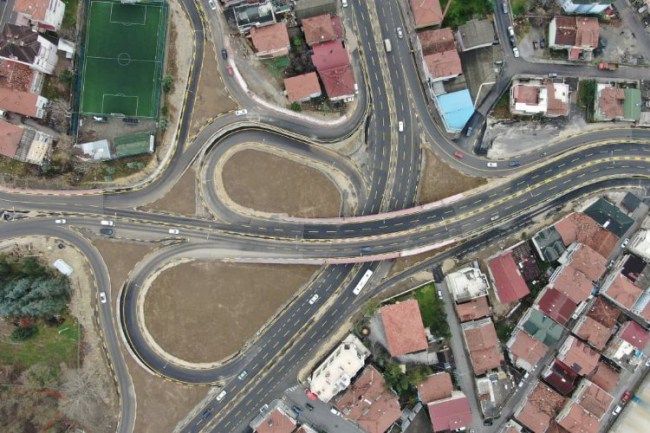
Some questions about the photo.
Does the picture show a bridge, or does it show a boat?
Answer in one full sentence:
I can see a bridge in this picture.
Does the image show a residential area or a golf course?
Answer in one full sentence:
It's a residential area.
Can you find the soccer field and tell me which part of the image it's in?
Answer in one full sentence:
The soccer field appears toward the top left of the photo.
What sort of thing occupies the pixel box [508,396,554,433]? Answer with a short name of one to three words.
house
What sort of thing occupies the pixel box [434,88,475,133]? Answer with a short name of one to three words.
building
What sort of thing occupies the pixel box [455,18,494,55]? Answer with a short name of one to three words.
shed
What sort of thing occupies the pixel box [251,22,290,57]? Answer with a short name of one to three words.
house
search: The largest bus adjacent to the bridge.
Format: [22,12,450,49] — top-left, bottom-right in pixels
[352,270,375,296]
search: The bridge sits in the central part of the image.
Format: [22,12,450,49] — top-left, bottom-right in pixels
[230,190,470,268]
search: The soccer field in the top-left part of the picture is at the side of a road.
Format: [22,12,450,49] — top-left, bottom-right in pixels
[79,0,162,121]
